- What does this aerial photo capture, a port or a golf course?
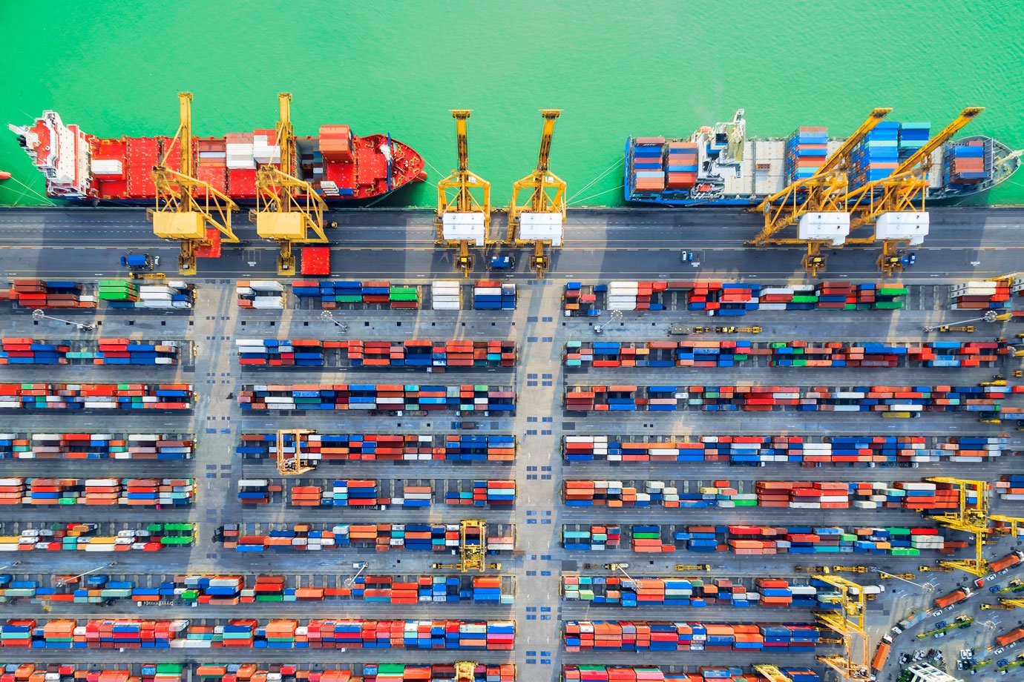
port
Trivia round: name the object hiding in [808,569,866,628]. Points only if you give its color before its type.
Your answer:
yellow container crane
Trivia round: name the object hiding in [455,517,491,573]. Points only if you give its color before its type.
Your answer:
yellow container crane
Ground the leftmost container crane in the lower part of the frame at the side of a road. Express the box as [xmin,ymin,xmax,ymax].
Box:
[276,425,318,477]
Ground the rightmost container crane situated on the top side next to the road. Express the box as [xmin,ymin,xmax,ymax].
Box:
[826,108,984,288]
